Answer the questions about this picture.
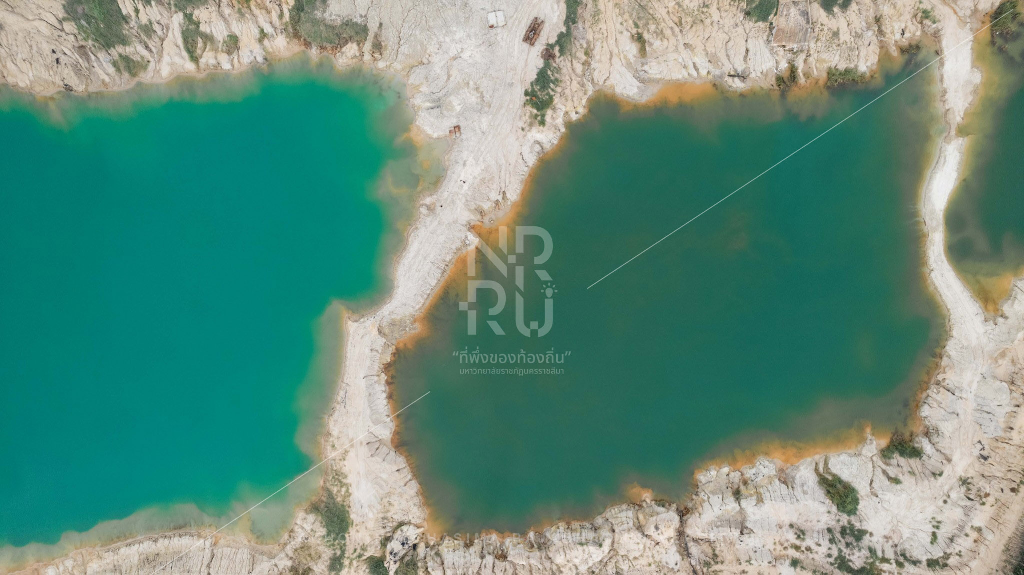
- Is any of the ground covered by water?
Yes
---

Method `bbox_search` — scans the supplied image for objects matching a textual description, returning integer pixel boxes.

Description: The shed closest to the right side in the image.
[772,0,812,52]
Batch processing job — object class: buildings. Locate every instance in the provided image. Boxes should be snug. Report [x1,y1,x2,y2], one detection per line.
[487,9,507,28]
[772,0,812,52]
